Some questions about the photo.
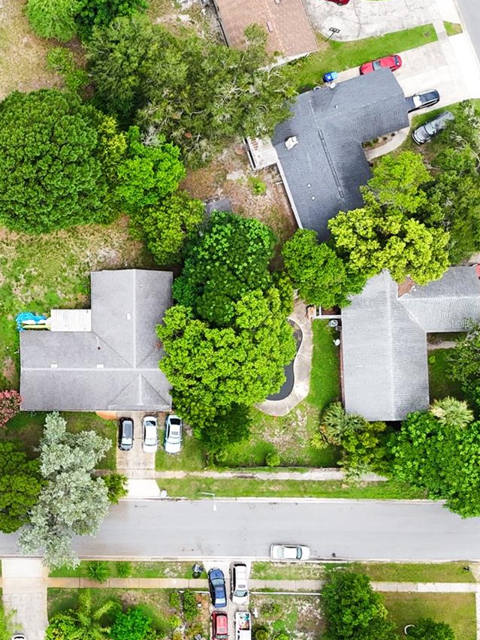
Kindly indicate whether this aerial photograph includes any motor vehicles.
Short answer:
Yes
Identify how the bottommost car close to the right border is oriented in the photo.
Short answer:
diagonally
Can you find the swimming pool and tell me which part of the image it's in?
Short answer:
center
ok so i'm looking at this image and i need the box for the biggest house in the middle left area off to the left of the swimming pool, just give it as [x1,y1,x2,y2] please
[21,269,174,411]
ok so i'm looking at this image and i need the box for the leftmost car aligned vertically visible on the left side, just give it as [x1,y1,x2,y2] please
[120,417,137,452]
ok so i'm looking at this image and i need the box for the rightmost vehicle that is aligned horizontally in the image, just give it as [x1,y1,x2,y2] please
[405,86,447,109]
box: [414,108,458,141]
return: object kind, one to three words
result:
car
